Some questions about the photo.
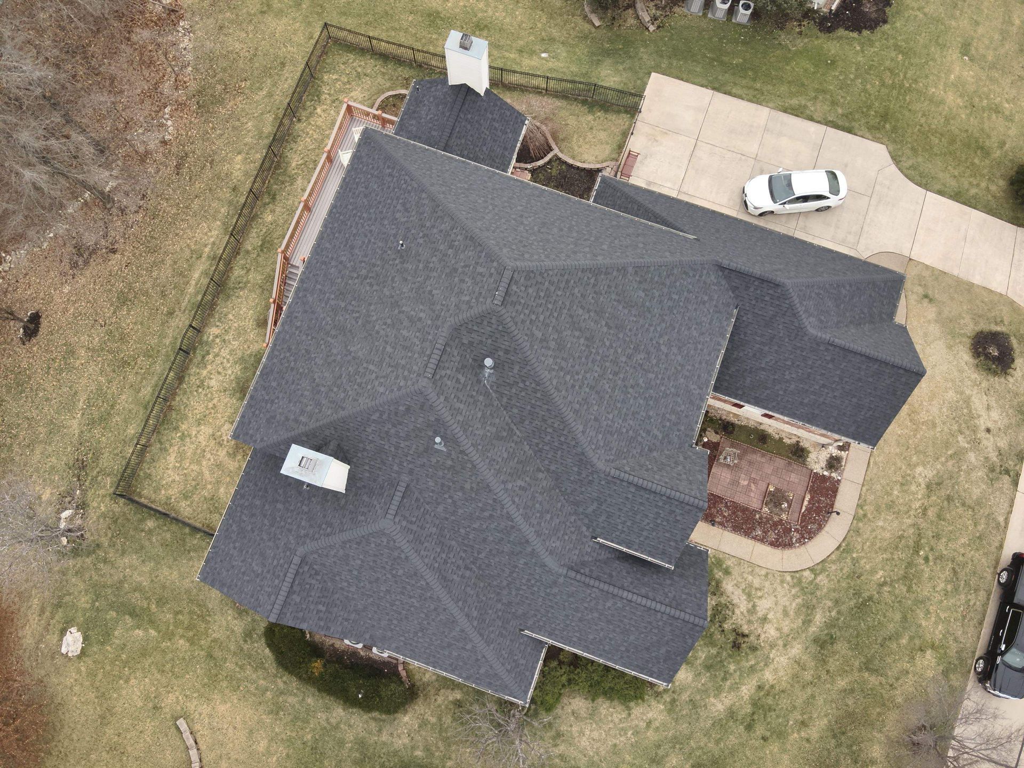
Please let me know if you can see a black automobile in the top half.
No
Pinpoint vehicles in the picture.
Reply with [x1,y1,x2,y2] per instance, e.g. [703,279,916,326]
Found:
[971,550,1024,709]
[741,167,846,217]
